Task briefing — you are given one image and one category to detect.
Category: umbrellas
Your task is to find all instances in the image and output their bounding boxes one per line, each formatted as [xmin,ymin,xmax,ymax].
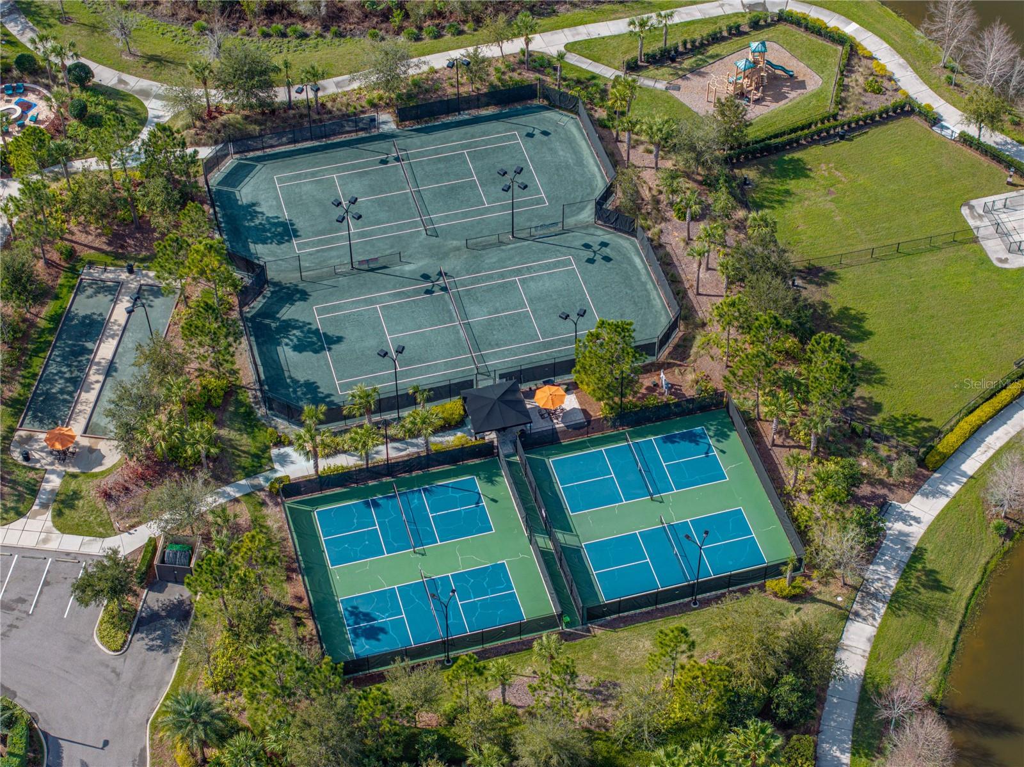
[534,385,569,411]
[40,426,75,459]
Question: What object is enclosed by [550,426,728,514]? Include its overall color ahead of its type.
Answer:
blue sports court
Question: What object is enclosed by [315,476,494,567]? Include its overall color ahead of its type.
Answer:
blue sports court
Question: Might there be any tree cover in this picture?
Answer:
Yes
